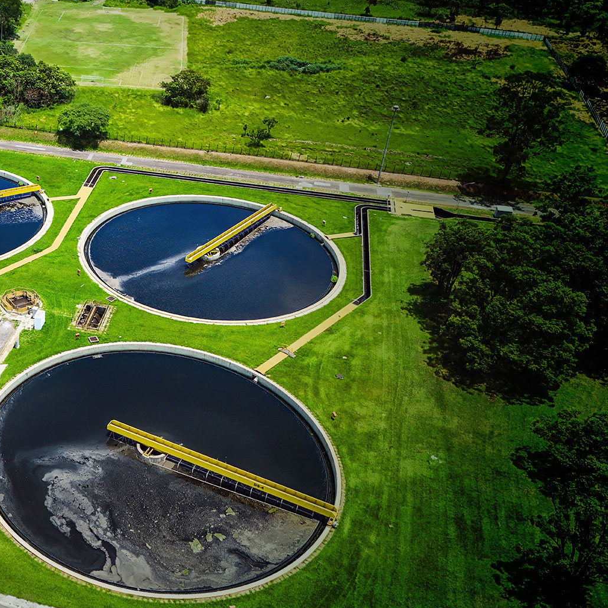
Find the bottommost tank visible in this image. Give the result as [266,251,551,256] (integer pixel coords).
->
[0,342,346,607]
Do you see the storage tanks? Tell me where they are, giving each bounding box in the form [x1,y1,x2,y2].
[0,342,346,607]
[0,170,53,262]
[75,194,348,329]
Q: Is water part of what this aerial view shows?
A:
Yes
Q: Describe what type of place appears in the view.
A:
industrial area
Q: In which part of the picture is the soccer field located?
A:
top left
